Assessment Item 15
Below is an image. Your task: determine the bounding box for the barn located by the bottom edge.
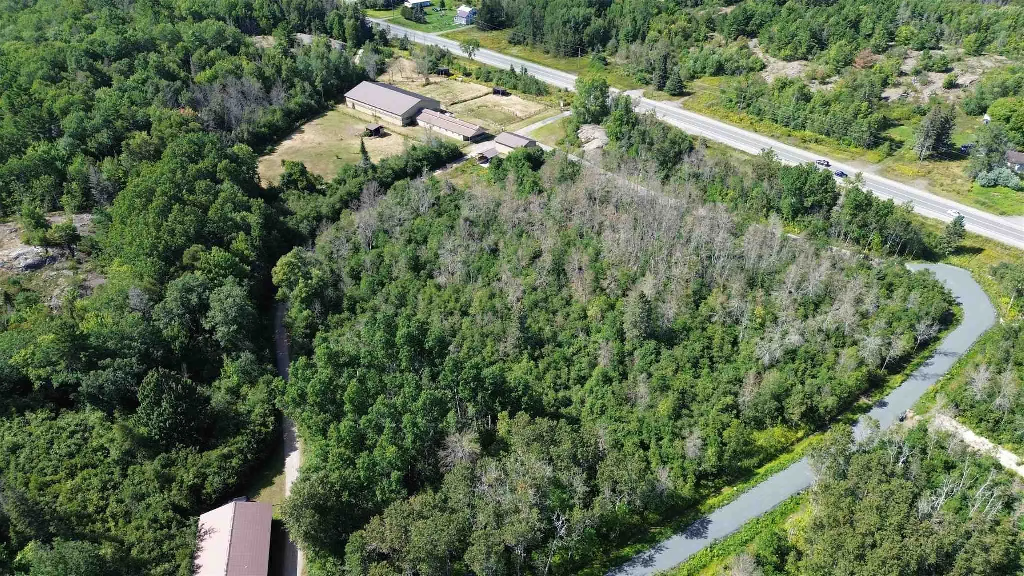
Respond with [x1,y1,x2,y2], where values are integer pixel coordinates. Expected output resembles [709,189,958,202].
[189,501,274,576]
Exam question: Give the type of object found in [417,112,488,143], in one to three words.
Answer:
building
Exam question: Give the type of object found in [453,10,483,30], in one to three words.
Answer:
house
